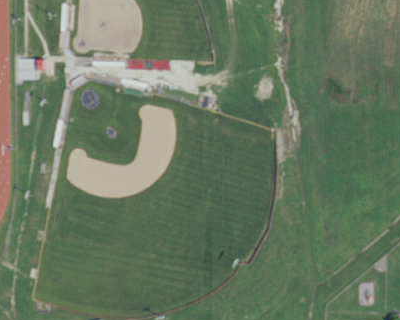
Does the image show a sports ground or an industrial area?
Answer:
sports ground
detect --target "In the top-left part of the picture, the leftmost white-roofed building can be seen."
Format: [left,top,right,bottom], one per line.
[17,58,35,80]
